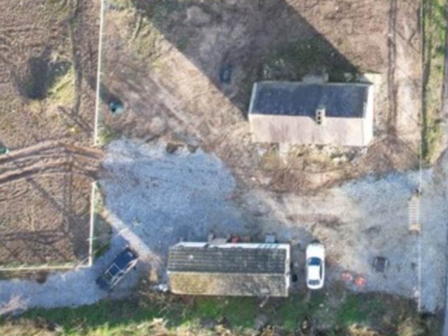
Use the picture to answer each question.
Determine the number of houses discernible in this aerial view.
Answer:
two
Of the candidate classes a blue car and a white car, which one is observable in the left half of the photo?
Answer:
blue car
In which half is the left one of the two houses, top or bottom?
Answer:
bottom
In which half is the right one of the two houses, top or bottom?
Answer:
top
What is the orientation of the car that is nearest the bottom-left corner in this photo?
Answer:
at an angle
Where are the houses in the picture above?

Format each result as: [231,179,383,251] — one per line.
[169,242,294,299]
[253,70,372,147]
